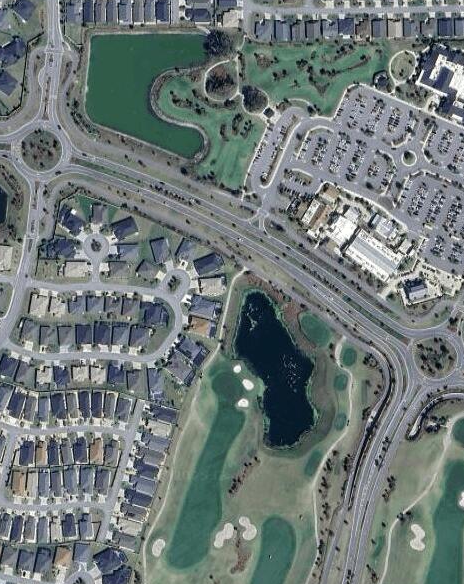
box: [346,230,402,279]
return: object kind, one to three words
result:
building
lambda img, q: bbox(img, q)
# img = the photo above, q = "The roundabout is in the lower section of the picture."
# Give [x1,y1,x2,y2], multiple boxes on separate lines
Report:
[403,327,464,389]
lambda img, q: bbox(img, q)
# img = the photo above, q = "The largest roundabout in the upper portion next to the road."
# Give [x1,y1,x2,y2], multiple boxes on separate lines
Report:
[11,120,72,181]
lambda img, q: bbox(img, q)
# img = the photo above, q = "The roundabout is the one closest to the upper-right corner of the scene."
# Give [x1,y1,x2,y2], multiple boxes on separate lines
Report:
[394,144,424,173]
